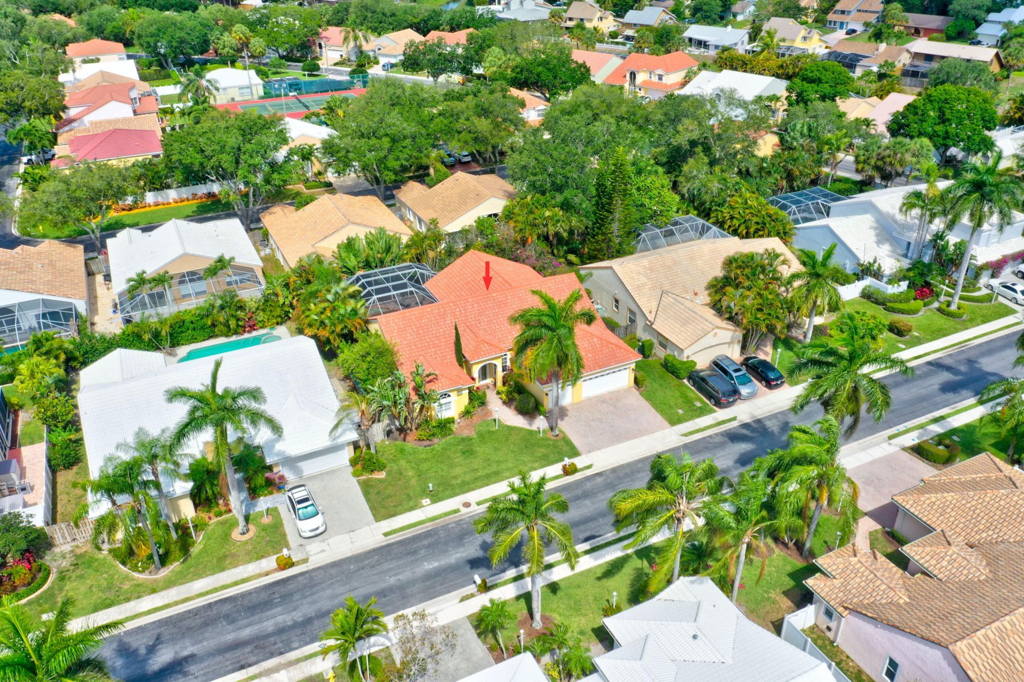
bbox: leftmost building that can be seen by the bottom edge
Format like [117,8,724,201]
[591,560,847,682]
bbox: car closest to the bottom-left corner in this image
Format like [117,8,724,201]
[279,477,324,533]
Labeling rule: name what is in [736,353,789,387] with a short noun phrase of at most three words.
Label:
car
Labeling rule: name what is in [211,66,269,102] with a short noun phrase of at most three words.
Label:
house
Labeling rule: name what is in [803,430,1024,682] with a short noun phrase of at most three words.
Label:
house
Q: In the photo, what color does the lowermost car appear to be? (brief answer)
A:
white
